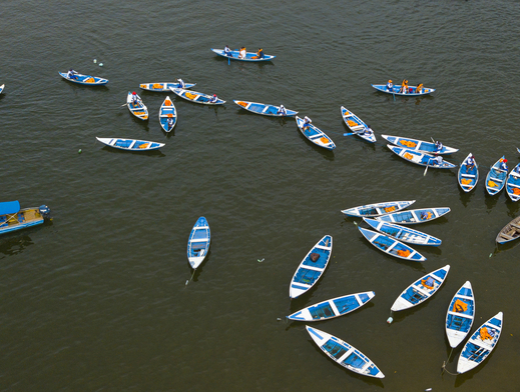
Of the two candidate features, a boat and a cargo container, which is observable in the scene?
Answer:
boat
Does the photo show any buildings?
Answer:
No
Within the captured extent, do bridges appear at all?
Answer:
No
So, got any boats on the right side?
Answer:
Yes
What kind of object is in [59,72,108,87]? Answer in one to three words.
boat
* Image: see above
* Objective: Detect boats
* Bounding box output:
[0,198,56,233]
[445,280,475,350]
[459,155,479,194]
[158,96,179,135]
[371,84,435,96]
[507,163,520,204]
[495,215,520,245]
[188,216,211,272]
[296,117,335,151]
[127,92,150,122]
[391,265,449,314]
[357,227,426,264]
[373,208,451,225]
[235,100,299,118]
[286,292,374,323]
[363,217,442,248]
[341,106,376,144]
[97,137,166,151]
[387,144,456,170]
[458,312,502,376]
[341,200,416,218]
[211,49,276,62]
[59,72,108,87]
[170,88,226,107]
[306,325,384,380]
[291,235,333,300]
[486,156,509,198]
[381,135,459,155]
